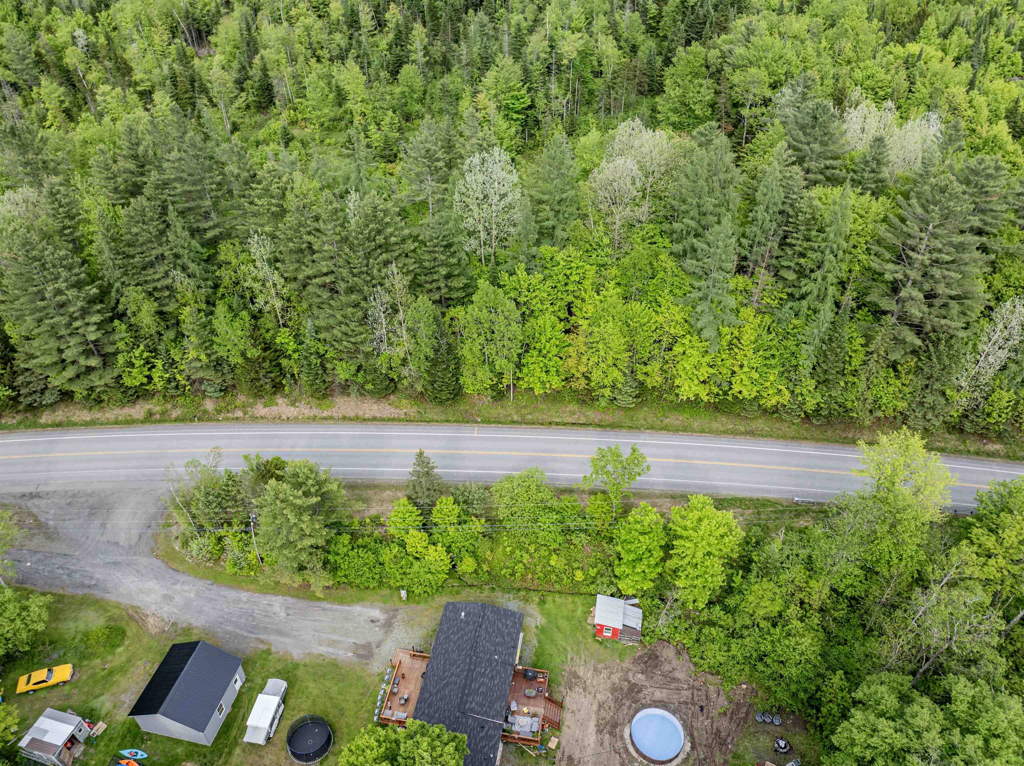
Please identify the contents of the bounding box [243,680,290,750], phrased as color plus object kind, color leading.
white vehicle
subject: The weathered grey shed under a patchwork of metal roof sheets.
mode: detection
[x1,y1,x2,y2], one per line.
[21,708,88,766]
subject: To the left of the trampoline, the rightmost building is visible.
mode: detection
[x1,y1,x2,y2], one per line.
[127,641,248,747]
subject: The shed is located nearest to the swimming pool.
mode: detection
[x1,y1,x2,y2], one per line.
[595,595,644,650]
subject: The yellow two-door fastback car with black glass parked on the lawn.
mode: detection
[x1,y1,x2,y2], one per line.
[15,665,76,695]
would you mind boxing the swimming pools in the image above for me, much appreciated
[629,707,685,766]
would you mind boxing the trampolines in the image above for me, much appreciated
[285,712,334,766]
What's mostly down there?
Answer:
trees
